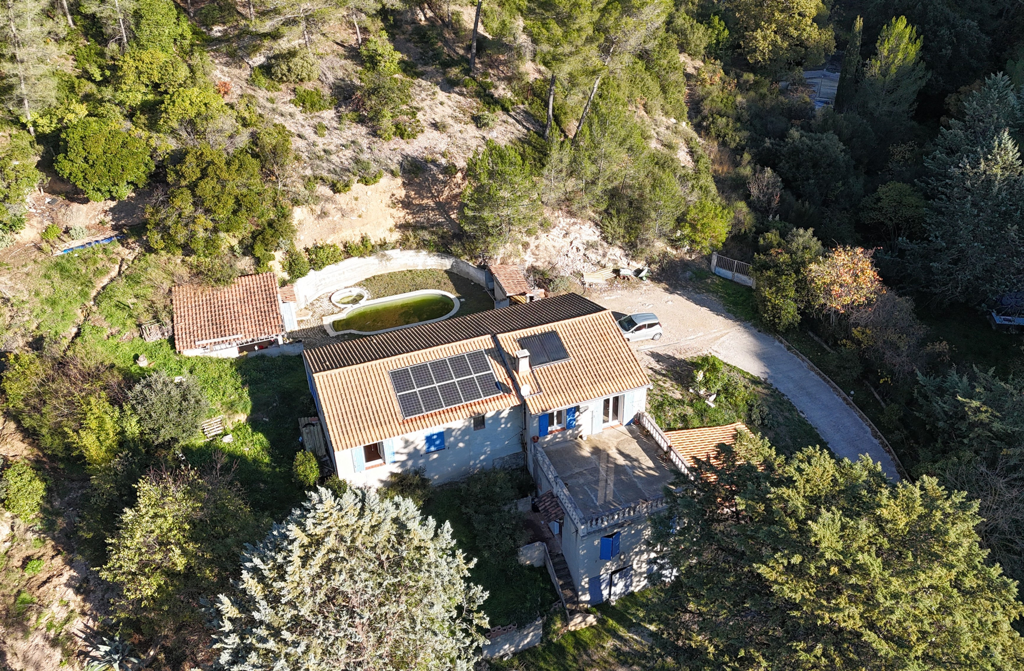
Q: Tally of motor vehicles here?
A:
one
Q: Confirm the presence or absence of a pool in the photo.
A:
Yes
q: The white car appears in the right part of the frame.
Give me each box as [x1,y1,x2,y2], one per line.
[616,314,666,345]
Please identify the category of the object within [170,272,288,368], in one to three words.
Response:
shed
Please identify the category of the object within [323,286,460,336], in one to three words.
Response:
swimming pool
